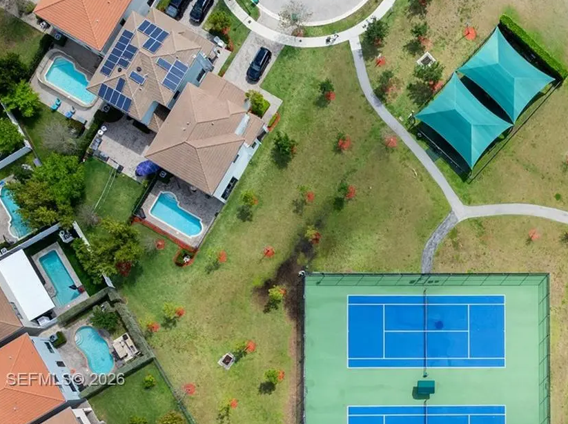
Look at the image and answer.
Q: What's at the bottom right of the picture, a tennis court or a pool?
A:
tennis court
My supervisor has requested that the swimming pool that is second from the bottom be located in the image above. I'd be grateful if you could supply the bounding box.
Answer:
[36,247,84,309]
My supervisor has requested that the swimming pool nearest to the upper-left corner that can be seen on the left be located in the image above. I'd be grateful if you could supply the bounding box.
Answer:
[40,51,102,110]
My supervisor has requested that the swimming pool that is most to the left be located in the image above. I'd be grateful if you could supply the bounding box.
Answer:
[0,183,28,238]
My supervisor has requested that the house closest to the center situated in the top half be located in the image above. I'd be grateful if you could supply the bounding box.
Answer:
[144,72,266,201]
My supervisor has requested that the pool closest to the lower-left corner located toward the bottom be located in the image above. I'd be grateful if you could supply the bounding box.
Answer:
[73,324,115,377]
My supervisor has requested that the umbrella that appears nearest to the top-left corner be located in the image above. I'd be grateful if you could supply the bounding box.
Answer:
[136,158,157,179]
